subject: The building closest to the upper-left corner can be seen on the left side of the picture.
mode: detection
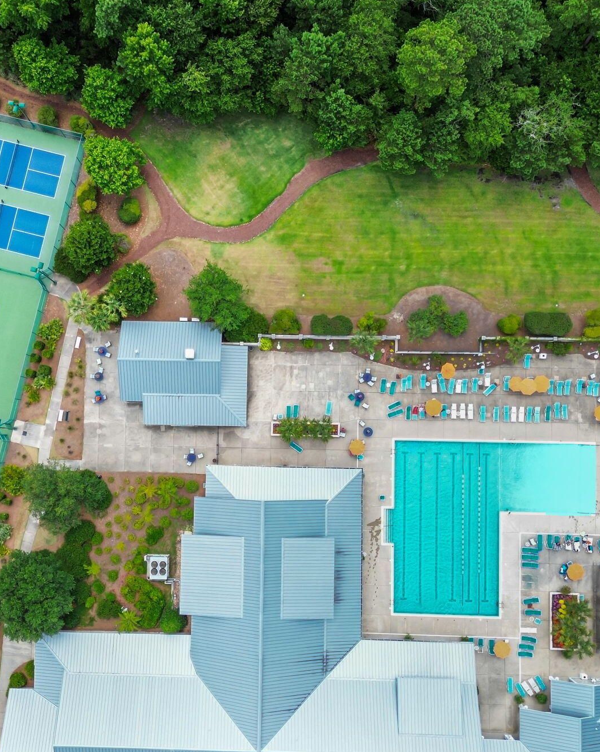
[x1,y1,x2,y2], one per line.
[117,321,248,426]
